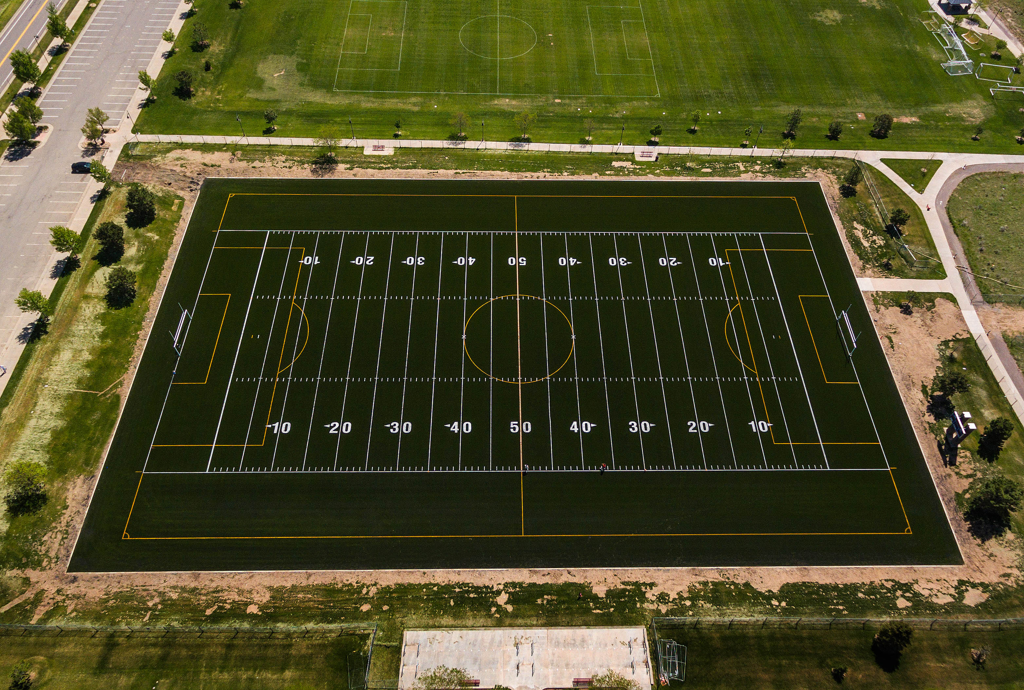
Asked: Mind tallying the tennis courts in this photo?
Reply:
none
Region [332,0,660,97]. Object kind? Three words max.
soccer field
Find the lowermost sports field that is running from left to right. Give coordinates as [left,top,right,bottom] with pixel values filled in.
[64,176,967,576]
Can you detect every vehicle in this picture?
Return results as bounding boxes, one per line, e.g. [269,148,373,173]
[69,160,89,172]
